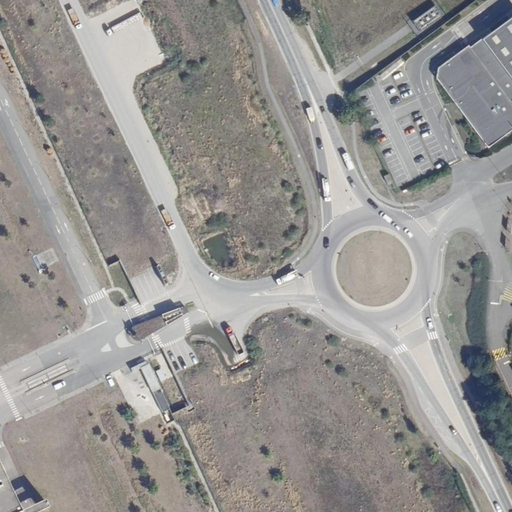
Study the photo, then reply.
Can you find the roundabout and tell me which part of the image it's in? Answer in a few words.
right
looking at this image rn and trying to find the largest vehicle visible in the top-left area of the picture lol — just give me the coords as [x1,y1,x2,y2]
[106,12,140,36]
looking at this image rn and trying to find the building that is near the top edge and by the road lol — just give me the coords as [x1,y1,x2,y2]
[438,18,512,149]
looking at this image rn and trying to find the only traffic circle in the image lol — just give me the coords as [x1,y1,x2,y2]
[309,204,438,333]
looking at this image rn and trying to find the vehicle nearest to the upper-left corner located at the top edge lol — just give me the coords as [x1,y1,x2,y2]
[67,8,80,28]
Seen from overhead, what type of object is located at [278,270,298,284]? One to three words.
vehicle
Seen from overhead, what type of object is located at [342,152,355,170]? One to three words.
vehicle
